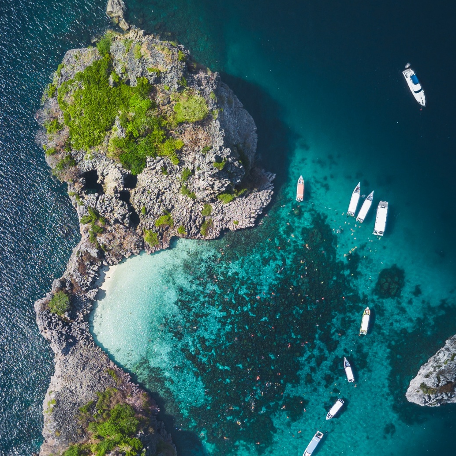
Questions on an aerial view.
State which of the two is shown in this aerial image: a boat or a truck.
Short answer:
boat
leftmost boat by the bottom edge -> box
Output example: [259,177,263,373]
[305,432,324,456]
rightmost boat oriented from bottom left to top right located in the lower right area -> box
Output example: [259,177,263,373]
[327,398,344,420]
